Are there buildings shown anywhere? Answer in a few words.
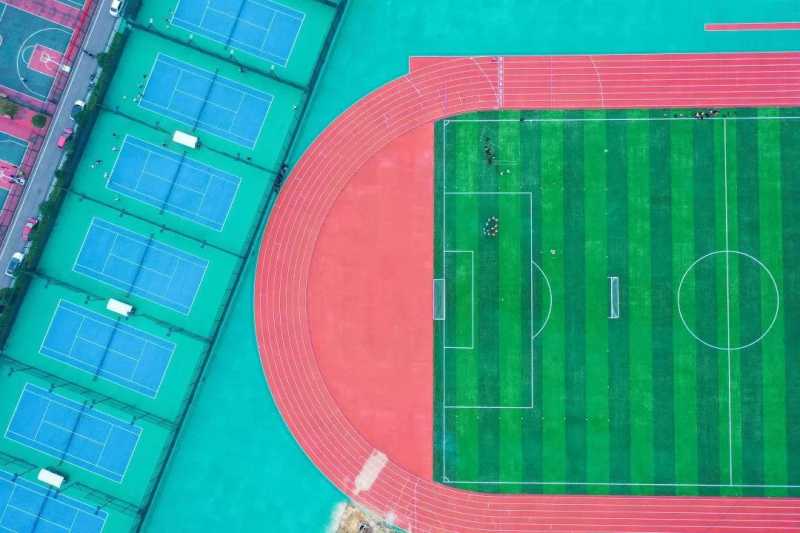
No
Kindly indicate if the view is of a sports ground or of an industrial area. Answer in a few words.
sports ground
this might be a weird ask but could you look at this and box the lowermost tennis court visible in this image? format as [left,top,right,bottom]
[0,454,145,533]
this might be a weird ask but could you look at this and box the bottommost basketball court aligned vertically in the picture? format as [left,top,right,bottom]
[0,131,30,216]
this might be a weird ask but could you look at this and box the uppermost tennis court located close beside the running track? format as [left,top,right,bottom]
[130,0,335,89]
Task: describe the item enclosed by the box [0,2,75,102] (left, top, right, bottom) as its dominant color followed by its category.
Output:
blue basketball court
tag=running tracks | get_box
[253,52,800,533]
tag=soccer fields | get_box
[433,106,800,499]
